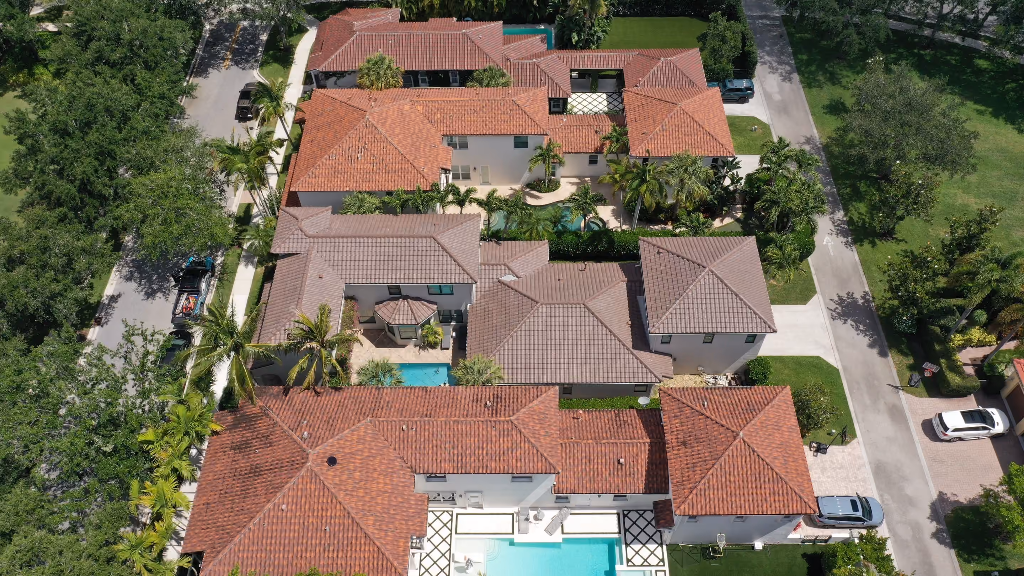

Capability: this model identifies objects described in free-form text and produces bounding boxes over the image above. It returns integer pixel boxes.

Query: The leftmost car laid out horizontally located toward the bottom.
[809,492,885,528]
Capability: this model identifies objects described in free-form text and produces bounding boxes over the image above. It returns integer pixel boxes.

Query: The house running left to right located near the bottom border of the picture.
[182,385,819,576]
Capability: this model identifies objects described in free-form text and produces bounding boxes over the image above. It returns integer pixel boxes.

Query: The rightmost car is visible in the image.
[937,404,1011,441]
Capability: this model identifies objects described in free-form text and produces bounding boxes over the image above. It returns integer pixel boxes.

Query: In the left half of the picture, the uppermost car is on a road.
[234,83,263,115]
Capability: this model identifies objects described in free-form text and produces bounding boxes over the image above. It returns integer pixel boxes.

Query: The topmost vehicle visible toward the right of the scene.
[708,77,757,103]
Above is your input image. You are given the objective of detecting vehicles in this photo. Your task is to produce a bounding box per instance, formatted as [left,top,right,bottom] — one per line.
[937,404,1011,441]
[163,260,210,325]
[708,77,757,103]
[156,331,189,382]
[809,492,885,528]
[234,83,263,115]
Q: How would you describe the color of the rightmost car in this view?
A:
white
